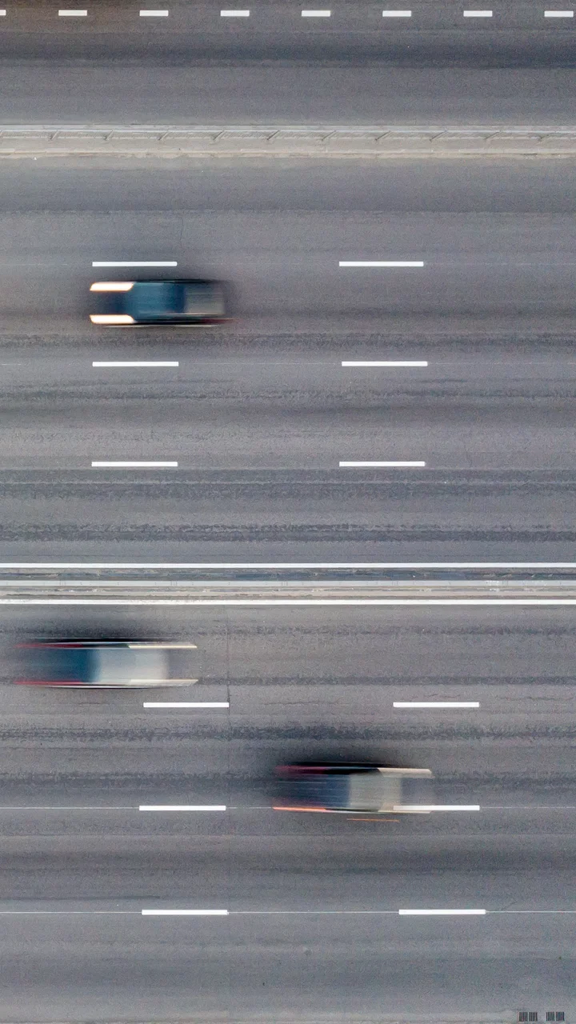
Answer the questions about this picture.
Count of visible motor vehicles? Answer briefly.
three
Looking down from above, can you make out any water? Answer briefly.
No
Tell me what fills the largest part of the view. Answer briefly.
paved ground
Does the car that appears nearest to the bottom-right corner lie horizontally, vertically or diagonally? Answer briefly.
horizontally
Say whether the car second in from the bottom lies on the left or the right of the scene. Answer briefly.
left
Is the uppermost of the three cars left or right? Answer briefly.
left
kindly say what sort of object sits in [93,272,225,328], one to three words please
car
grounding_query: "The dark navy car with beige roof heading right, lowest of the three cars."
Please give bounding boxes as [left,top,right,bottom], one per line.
[278,759,415,817]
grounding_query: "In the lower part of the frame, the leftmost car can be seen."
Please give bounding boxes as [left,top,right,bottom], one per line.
[36,636,179,693]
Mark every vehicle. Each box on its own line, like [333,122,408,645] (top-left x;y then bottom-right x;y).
[93,272,225,328]
[278,759,415,817]
[36,636,179,693]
